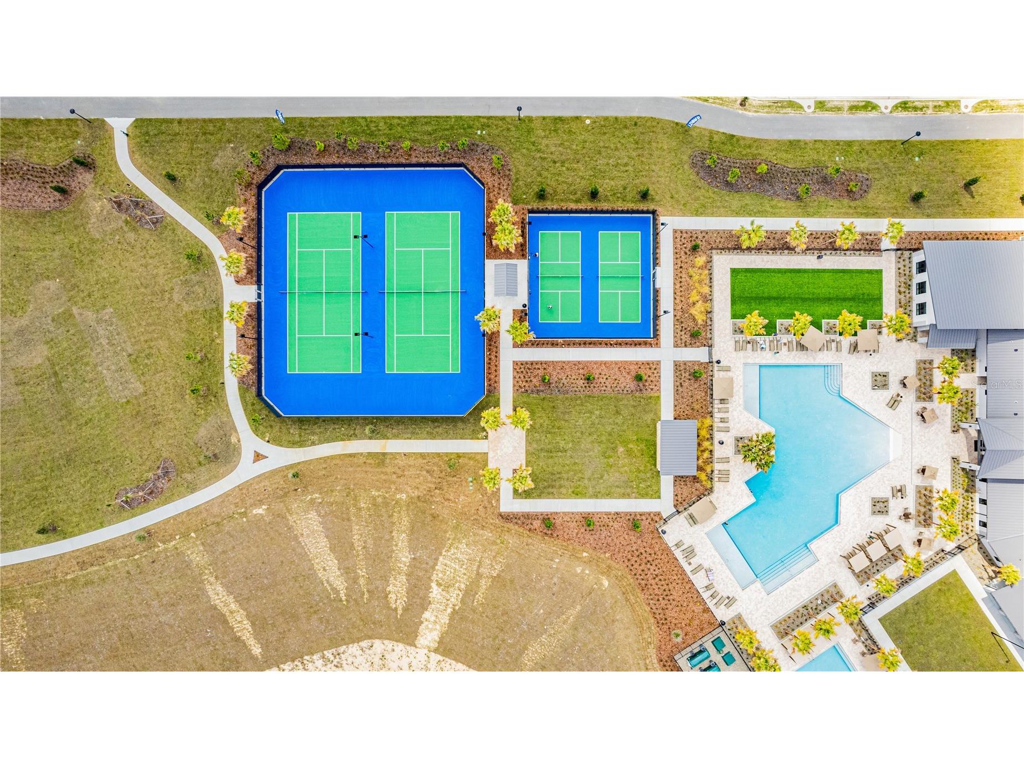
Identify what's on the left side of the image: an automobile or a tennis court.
tennis court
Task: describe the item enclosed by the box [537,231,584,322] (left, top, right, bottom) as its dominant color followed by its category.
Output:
green sports court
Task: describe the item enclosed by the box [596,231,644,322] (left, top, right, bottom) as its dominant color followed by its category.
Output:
green sports court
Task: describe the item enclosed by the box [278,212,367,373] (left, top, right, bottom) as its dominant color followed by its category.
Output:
green tennis court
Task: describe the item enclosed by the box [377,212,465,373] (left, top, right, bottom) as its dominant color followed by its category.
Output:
green tennis court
